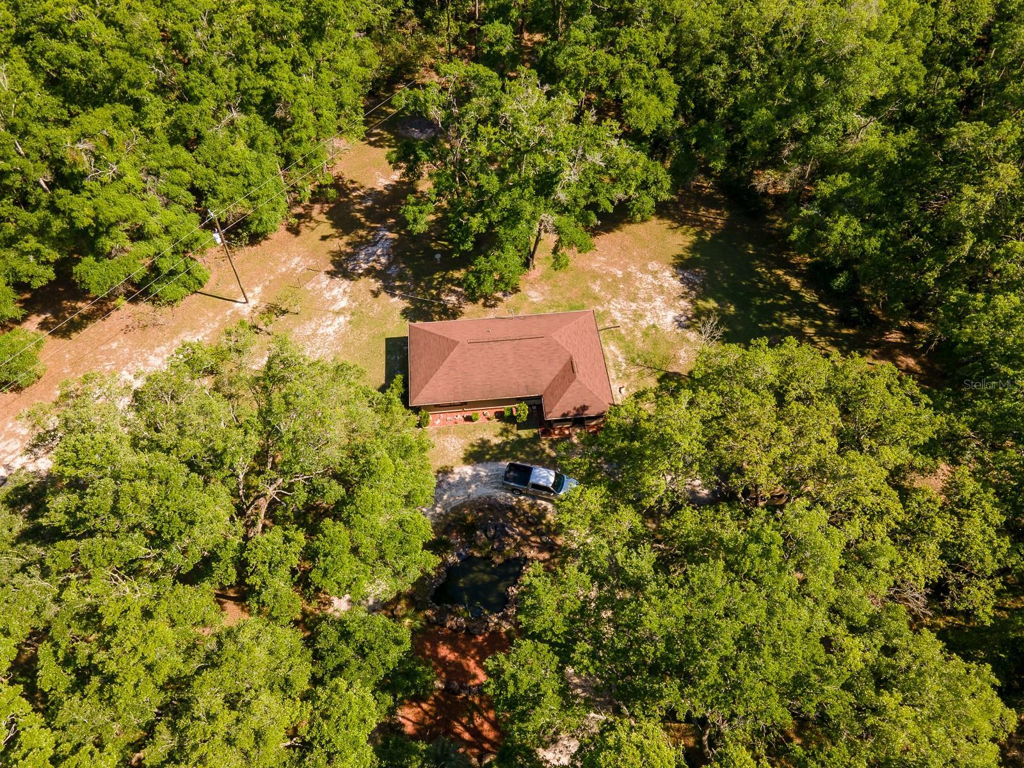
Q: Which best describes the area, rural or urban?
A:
rural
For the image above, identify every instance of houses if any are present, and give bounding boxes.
[408,301,615,425]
